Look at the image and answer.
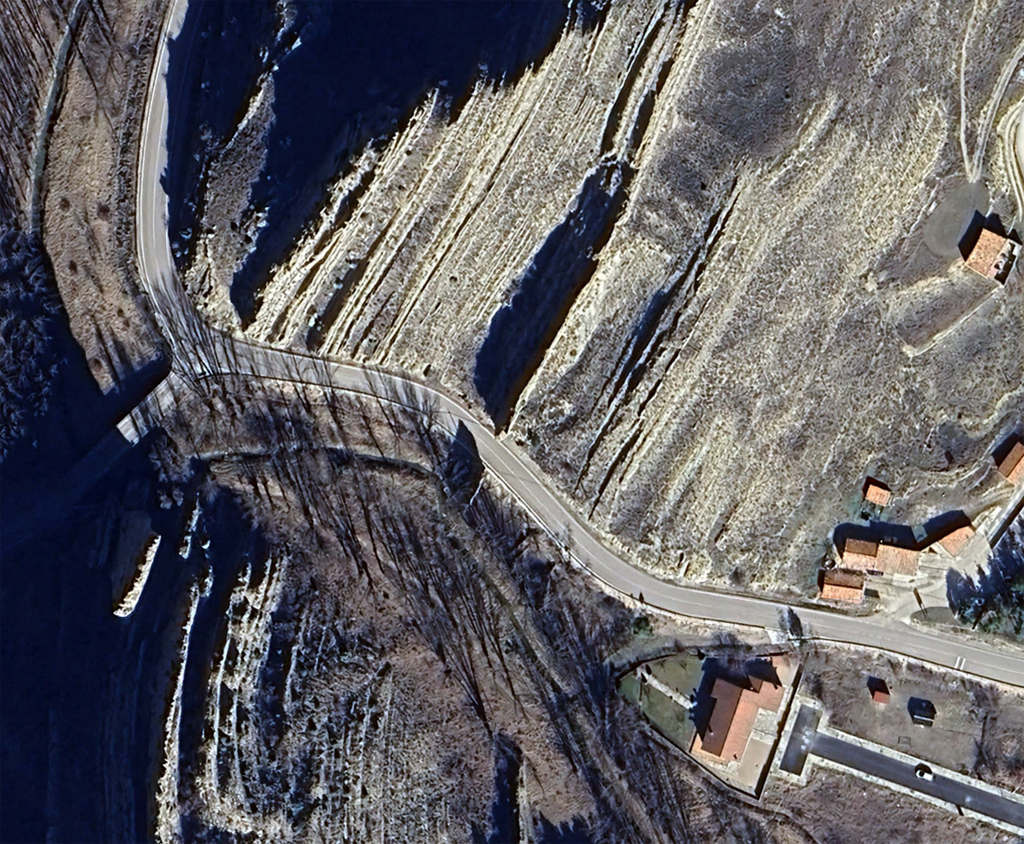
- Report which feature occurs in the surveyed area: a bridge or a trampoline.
bridge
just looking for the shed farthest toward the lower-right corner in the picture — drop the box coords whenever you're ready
[912,703,937,727]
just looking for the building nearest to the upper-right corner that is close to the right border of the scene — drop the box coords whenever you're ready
[966,228,1024,285]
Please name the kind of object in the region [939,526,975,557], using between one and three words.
house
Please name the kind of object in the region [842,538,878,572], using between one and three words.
house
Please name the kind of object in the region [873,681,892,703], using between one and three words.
shed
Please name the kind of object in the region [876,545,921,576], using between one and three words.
building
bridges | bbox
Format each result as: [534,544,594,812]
[99,361,195,465]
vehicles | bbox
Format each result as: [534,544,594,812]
[915,771,934,783]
